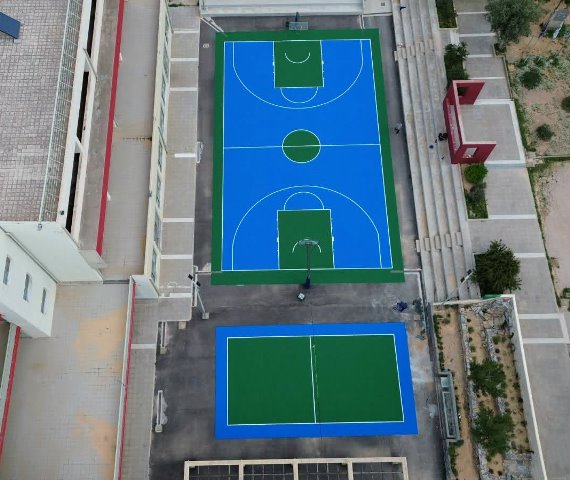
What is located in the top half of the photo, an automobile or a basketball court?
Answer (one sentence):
The feature located in the top half of the photo is a basketball court.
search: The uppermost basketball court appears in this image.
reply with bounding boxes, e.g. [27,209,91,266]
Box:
[211,28,405,285]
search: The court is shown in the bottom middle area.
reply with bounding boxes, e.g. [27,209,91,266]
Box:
[215,322,418,439]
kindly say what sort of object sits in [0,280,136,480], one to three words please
building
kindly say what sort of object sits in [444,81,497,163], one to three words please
building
